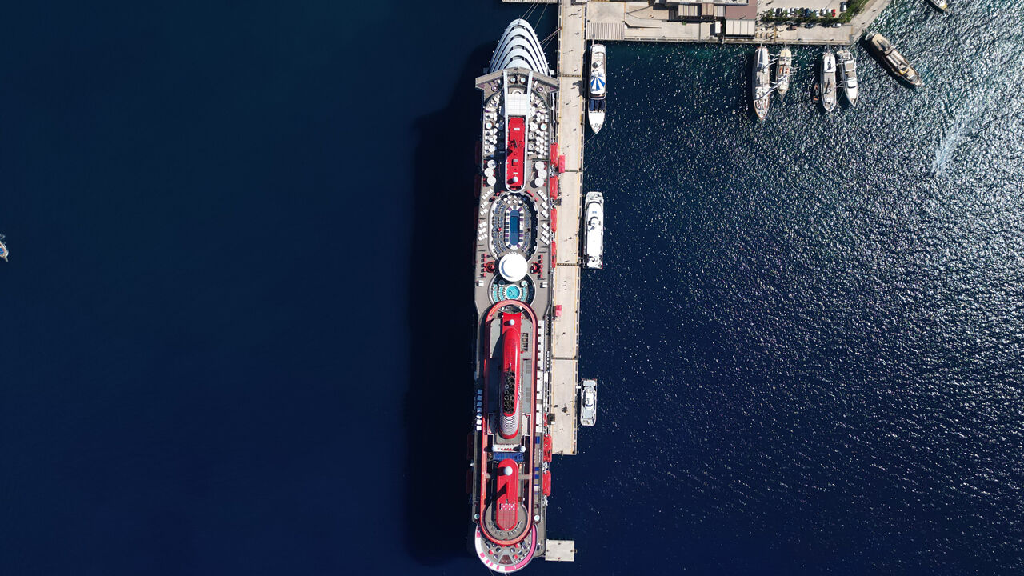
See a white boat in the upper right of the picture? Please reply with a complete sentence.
Yes, a white boat shows up in the upper right of the picture.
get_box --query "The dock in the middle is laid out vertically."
[549,0,588,455]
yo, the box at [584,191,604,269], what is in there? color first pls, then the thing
white ship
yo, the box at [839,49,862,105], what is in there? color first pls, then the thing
white boat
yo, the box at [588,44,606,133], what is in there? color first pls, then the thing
white boat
